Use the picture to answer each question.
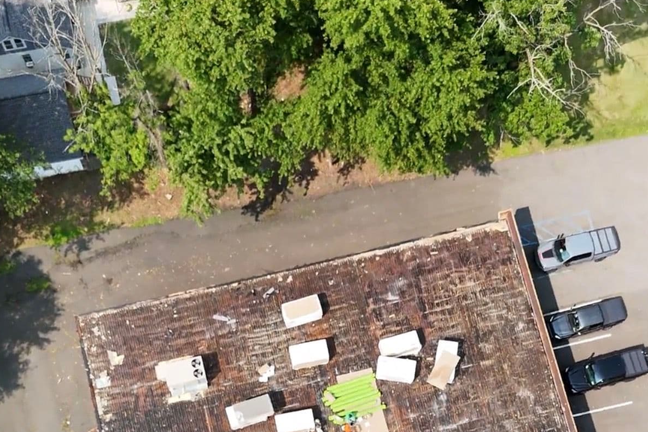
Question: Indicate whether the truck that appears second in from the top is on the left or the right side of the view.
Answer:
right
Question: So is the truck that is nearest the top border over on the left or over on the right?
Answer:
right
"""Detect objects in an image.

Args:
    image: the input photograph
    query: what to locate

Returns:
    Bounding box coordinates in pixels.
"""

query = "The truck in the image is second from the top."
[545,293,632,343]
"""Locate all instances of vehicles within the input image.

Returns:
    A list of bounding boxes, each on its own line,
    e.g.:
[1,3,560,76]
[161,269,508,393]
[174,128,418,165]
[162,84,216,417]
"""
[561,343,648,397]
[545,293,632,343]
[537,225,622,275]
